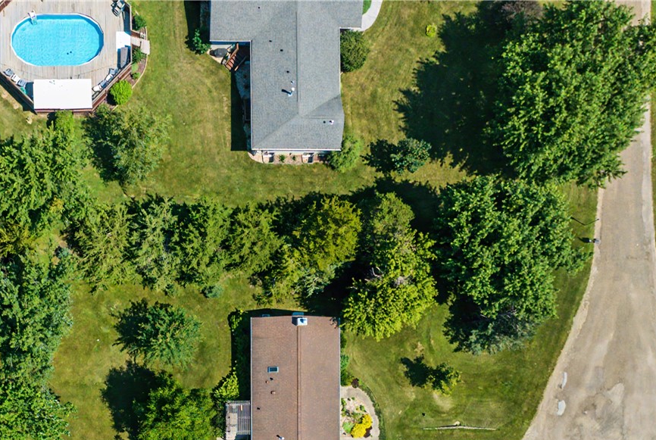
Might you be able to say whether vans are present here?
No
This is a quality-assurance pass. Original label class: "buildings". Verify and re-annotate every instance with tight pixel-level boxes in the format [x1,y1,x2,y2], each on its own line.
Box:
[249,313,341,440]
[210,0,366,156]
